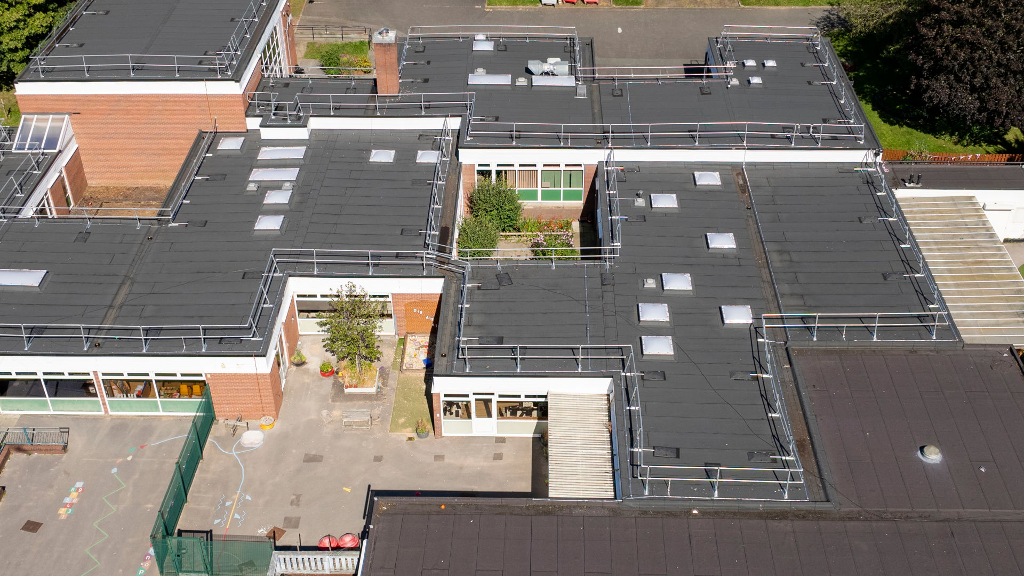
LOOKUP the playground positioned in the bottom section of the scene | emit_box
[0,333,562,576]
